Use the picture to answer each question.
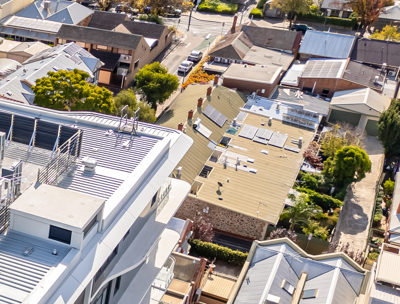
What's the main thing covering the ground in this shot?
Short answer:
buildings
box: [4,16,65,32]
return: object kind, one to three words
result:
solar panel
